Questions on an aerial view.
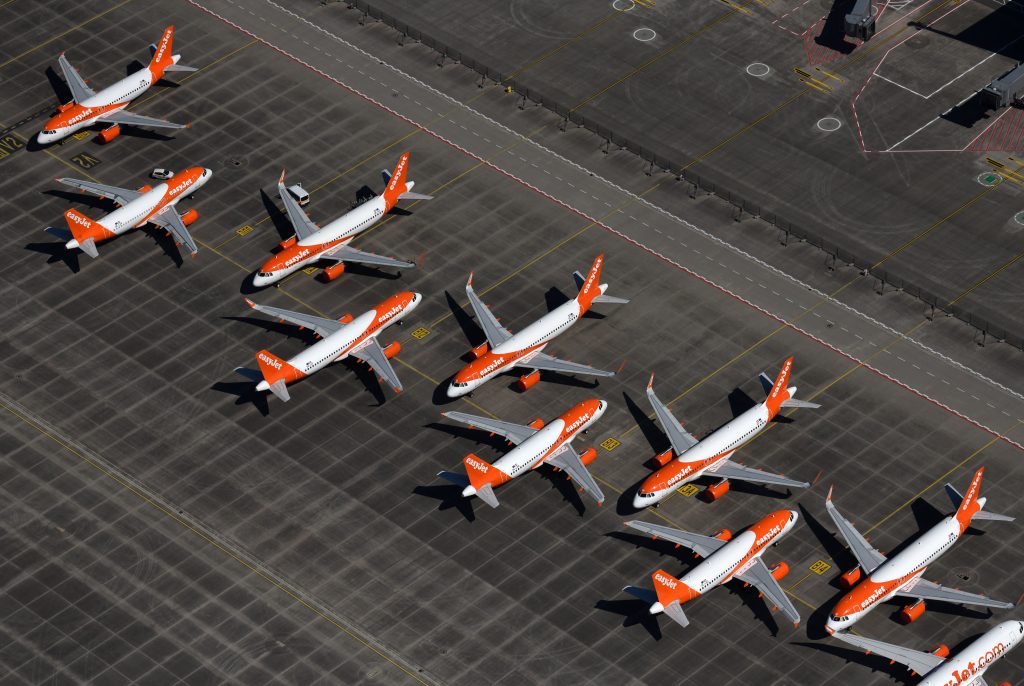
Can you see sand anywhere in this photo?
No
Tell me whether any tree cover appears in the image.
No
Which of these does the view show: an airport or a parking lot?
airport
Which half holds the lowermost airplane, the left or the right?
right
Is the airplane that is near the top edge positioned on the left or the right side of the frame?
left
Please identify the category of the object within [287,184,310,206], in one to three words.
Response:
vehicle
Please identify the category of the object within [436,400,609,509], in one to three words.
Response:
airplane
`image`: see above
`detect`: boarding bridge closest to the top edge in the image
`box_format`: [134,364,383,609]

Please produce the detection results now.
[844,0,874,40]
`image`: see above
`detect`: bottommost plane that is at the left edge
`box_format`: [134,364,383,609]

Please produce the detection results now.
[44,168,211,258]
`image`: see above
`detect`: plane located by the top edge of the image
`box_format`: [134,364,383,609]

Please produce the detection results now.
[38,26,199,144]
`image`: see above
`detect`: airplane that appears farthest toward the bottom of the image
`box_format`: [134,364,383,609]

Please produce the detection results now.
[826,620,1023,686]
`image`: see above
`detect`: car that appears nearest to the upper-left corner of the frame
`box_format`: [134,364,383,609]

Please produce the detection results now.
[150,167,174,180]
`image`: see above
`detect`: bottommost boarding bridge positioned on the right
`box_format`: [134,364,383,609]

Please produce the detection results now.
[980,63,1024,121]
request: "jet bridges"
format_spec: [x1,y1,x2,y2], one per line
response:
[980,63,1024,121]
[844,0,874,40]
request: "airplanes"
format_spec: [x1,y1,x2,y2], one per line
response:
[632,355,822,507]
[44,168,211,258]
[622,512,801,629]
[251,152,435,286]
[826,620,1023,686]
[436,400,609,509]
[826,466,1024,631]
[445,253,631,396]
[38,26,199,144]
[232,292,421,402]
